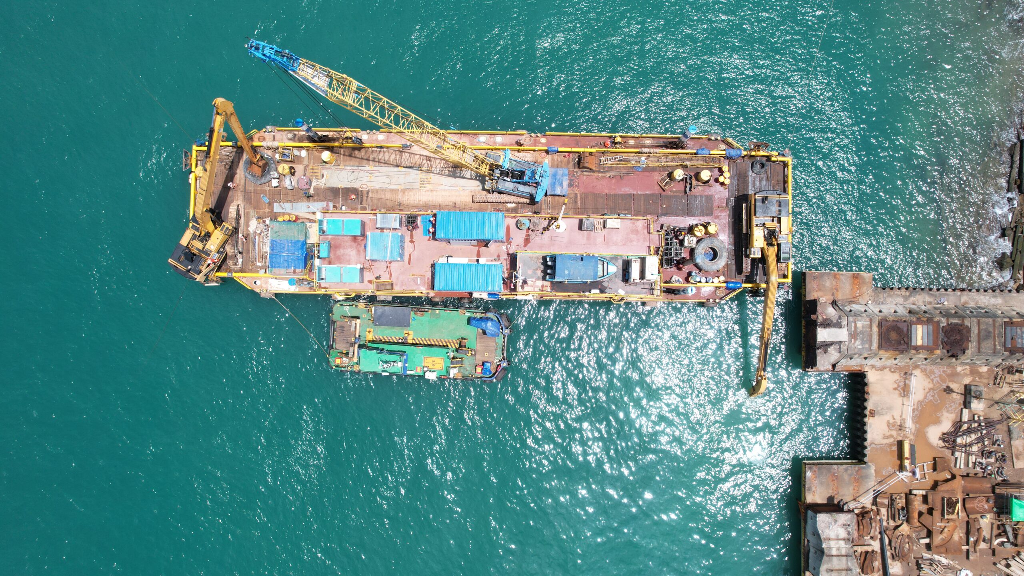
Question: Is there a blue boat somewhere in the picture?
Yes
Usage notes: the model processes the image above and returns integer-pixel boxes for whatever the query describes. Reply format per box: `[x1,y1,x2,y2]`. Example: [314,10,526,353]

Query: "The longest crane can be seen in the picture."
[241,38,546,205]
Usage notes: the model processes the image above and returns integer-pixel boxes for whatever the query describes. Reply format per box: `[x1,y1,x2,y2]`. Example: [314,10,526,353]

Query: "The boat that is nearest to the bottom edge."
[326,299,513,387]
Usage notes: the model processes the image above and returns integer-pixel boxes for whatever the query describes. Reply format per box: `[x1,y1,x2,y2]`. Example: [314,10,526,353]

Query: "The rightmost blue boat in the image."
[546,255,621,284]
